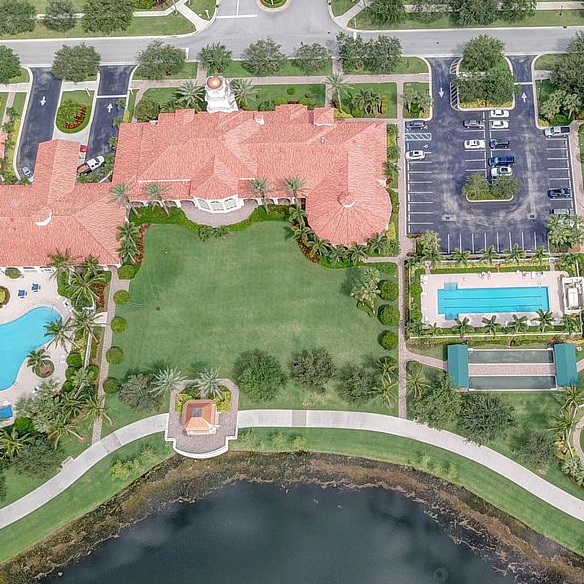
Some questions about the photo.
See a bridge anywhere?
No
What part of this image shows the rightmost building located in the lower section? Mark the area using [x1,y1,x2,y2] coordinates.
[181,399,219,435]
